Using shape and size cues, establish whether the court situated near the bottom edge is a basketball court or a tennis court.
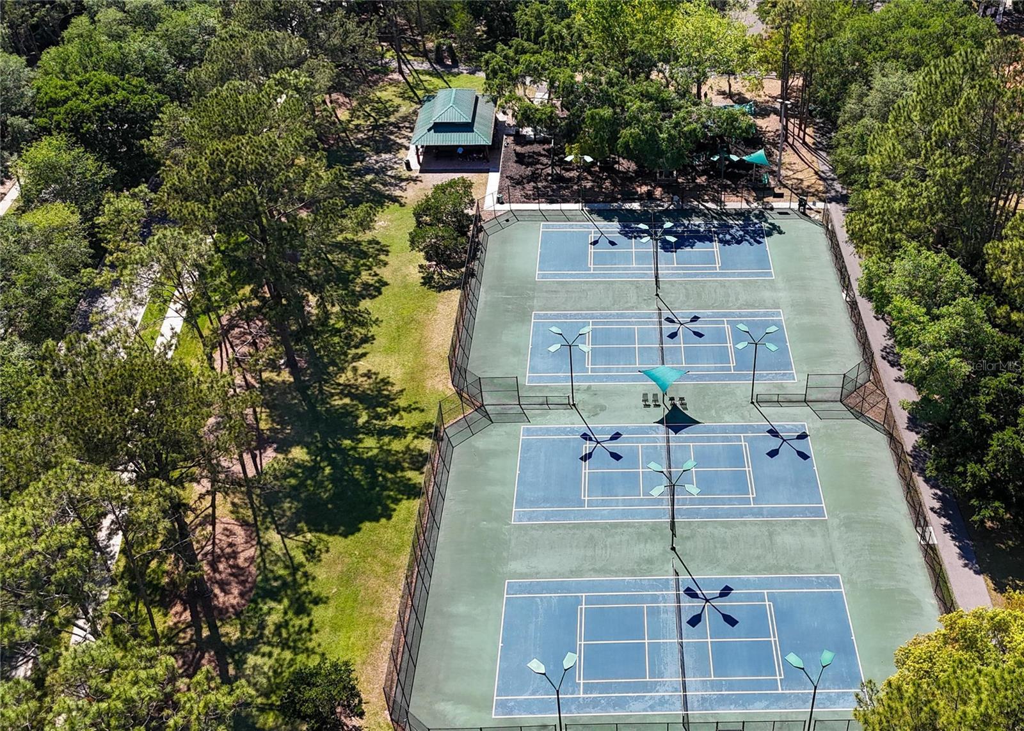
tennis court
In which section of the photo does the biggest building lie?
top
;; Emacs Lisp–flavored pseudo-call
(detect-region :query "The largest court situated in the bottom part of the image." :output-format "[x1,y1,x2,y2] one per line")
[493,575,870,718]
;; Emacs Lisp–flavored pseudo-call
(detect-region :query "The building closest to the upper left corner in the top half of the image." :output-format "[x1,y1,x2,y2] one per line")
[411,88,502,162]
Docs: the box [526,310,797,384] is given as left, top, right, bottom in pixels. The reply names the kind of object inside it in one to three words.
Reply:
tennis court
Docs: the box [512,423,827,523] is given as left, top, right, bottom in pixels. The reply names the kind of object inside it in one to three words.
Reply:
tennis court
